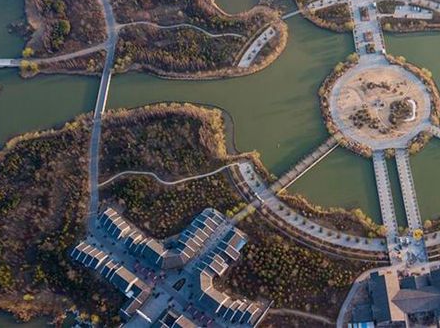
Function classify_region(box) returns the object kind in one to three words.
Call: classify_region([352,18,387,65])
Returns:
bridge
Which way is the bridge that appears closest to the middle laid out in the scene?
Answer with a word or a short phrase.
at an angle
